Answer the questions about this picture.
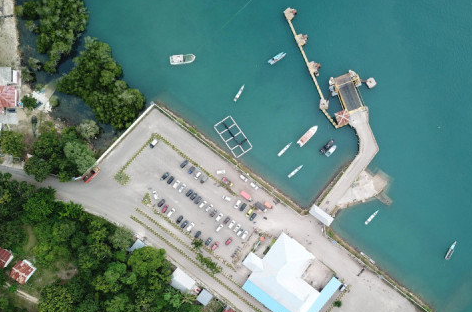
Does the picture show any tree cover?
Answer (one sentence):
Yes, tree cover shows up in the scene.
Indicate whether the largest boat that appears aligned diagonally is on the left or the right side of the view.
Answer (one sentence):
You can find the largest boat that appears aligned diagonally on the right side of the picture.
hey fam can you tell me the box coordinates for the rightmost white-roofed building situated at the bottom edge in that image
[242,232,341,312]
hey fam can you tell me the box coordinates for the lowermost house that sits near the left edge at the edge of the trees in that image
[11,260,37,285]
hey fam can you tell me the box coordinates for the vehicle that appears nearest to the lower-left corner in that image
[82,167,98,184]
